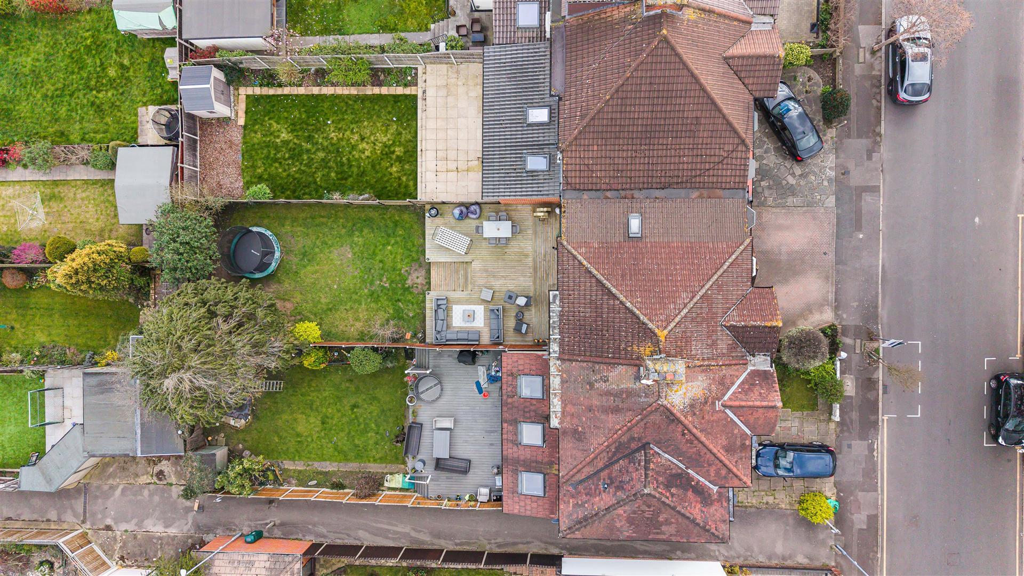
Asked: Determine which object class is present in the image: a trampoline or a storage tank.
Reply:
trampoline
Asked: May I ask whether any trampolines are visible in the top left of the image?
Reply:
Yes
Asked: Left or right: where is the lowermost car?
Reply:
right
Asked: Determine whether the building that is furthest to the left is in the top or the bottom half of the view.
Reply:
bottom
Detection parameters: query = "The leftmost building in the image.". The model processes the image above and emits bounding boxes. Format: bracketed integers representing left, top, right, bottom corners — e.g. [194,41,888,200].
[19,424,104,492]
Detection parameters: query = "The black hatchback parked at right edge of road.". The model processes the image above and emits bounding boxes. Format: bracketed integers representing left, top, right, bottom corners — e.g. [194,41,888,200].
[987,373,1024,444]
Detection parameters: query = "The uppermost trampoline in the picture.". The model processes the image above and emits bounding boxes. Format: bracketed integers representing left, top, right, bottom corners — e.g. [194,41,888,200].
[144,104,180,139]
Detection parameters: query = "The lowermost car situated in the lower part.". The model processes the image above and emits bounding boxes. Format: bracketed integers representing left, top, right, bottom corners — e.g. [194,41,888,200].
[753,439,832,479]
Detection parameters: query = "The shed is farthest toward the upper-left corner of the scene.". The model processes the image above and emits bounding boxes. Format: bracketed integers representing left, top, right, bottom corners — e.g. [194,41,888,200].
[111,0,181,41]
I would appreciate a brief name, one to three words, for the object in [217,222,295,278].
trampoline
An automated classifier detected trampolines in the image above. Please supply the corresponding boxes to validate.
[217,222,295,278]
[144,104,180,139]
